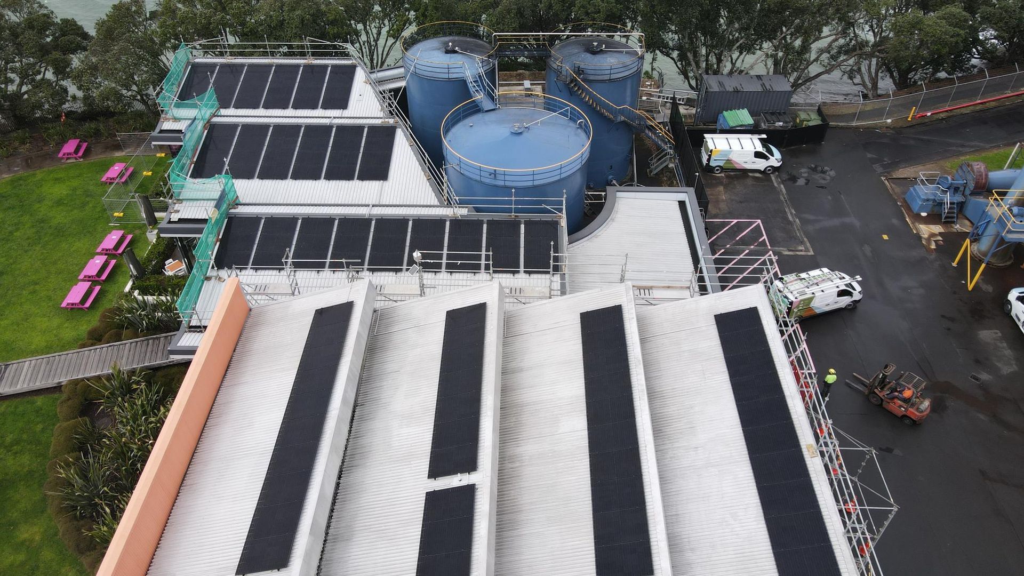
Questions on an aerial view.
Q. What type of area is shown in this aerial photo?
industrial area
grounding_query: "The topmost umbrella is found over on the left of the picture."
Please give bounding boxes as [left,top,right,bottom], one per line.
[138,200,161,242]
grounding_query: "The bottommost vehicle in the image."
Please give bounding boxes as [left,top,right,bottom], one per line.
[847,361,934,427]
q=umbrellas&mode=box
[138,200,161,242]
[117,241,140,271]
